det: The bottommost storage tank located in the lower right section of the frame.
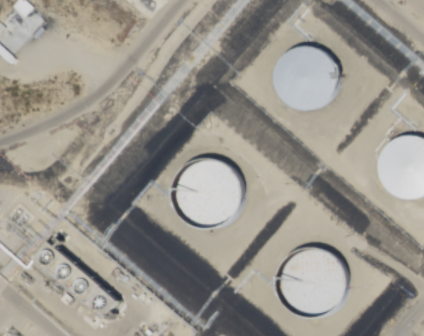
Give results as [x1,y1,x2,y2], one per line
[274,246,350,320]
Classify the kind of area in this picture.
industrial area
